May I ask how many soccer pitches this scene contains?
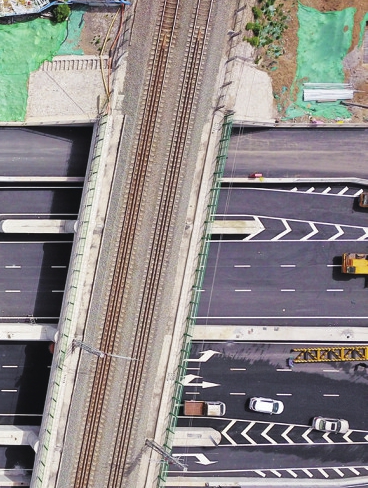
0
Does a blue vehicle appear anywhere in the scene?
No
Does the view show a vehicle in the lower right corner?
Yes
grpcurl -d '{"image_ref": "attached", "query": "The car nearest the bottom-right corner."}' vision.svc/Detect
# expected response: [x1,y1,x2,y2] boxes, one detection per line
[310,415,349,433]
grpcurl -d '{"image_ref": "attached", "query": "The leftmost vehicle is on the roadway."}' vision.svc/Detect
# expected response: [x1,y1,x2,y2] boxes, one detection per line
[184,400,226,419]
